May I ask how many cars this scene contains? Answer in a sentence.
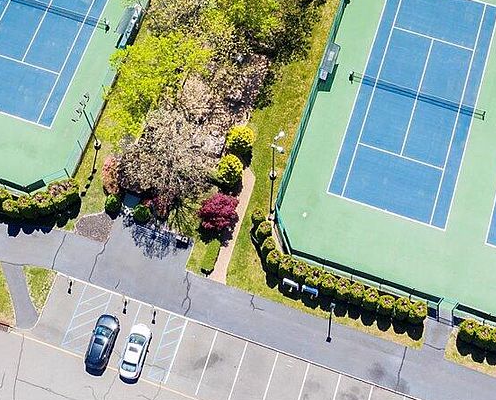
The picture shows 2 cars.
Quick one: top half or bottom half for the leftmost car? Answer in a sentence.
Seen from above, the leftmost car lies in the bottom half of the view.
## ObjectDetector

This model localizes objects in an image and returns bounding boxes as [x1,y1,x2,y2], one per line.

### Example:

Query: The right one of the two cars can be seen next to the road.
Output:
[118,323,153,384]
